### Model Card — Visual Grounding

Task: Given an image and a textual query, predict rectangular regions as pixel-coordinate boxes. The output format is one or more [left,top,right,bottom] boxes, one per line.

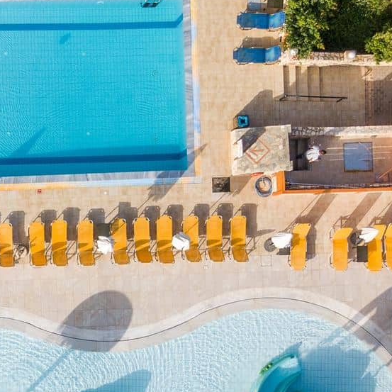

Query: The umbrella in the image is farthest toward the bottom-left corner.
[93,237,112,256]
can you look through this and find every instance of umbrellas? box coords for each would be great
[348,227,375,245]
[93,237,112,256]
[261,230,287,249]
[168,234,187,254]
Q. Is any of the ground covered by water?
Yes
